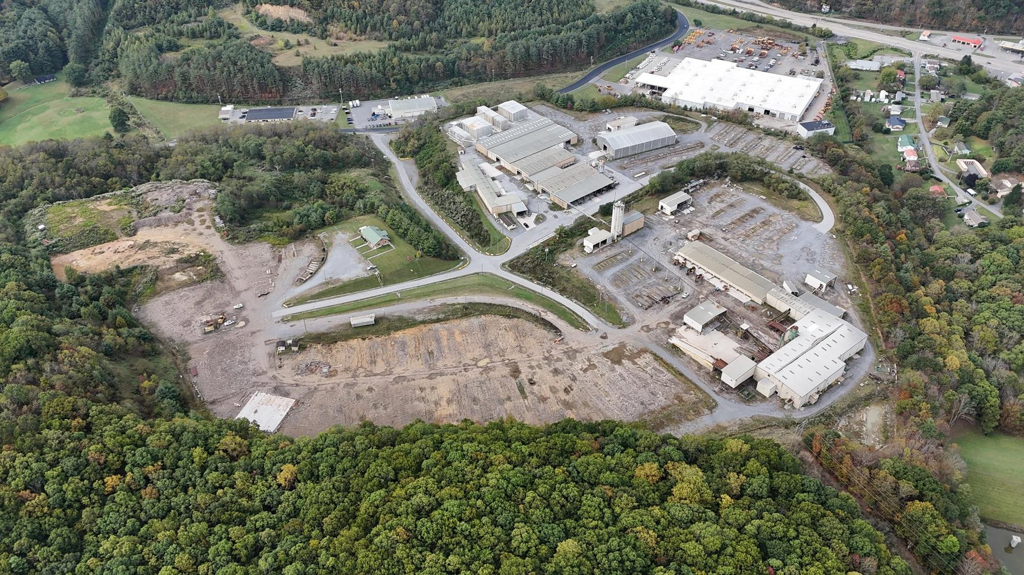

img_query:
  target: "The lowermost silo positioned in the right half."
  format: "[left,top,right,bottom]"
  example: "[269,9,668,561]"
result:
[611,194,626,242]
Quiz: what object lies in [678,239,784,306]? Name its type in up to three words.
shed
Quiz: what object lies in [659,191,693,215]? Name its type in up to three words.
shed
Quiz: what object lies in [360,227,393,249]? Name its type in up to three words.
house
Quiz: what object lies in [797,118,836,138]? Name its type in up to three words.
building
